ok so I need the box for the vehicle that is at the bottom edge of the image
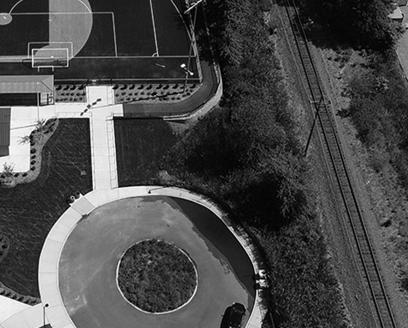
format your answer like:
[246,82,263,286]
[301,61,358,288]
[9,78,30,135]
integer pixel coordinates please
[220,303,246,328]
